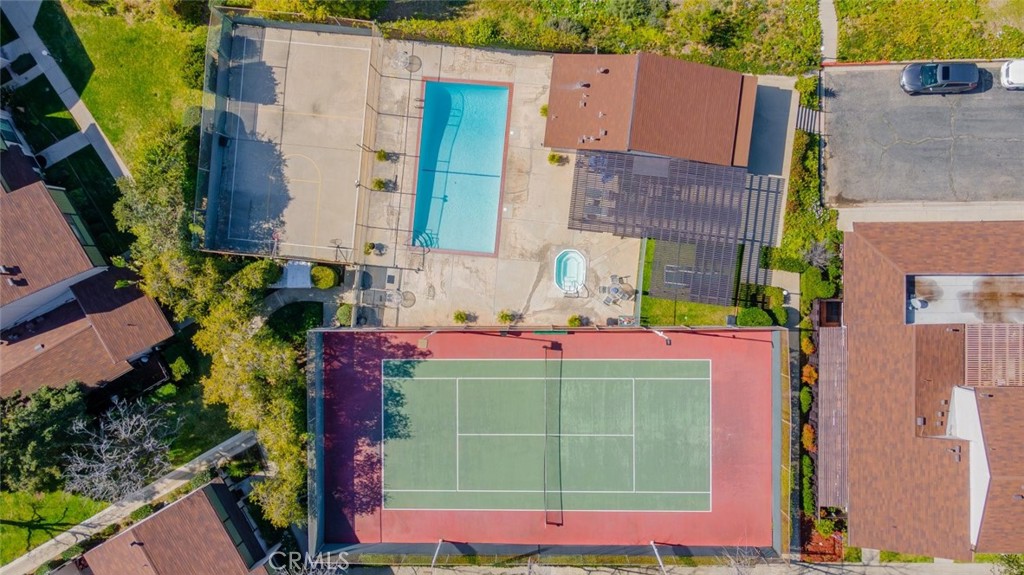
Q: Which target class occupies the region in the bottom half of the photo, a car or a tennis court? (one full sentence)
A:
The one visible in the bottom half of the photo is a tennis court.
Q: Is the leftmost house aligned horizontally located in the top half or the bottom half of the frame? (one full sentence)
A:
The leftmost house aligned horizontally is in the bottom half of the image.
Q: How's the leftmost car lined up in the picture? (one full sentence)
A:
The leftmost car has been laid out from side to side relative to the frame.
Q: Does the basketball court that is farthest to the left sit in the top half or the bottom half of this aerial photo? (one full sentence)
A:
The top half of the photo is where the basketball court that is farthest to the left is.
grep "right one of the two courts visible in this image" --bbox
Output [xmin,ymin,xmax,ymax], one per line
[324,328,772,545]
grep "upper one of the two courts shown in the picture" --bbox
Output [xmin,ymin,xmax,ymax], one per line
[212,23,383,264]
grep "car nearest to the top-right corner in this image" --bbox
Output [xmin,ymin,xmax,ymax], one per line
[1002,62,1024,91]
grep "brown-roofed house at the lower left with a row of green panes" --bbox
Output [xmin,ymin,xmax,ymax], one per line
[52,478,286,575]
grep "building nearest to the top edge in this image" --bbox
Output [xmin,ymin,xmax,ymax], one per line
[544,53,758,167]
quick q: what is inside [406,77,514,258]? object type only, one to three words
swimming pool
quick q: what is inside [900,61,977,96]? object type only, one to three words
car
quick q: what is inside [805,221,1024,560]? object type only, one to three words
house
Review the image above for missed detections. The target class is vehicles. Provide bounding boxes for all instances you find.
[1002,62,1024,91]
[900,61,977,96]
